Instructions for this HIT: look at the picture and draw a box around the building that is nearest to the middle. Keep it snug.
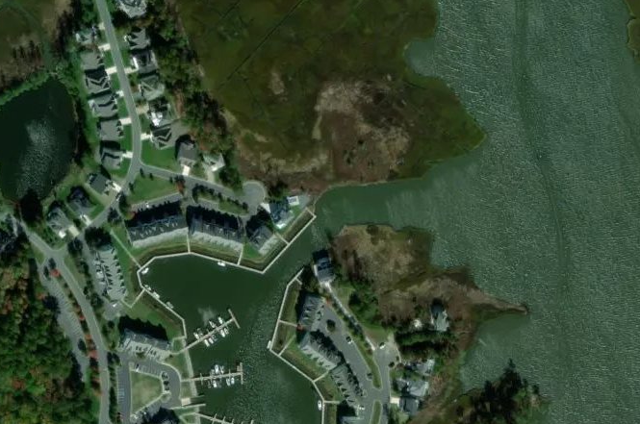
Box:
[269,197,298,229]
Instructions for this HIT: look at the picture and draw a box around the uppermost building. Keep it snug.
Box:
[115,0,148,17]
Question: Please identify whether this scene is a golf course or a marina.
marina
